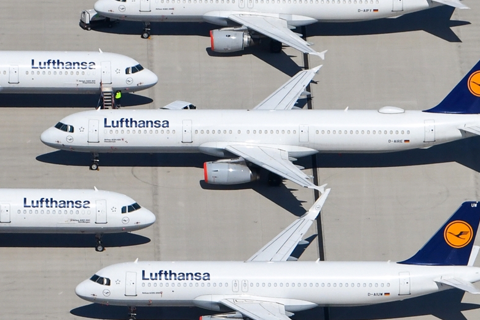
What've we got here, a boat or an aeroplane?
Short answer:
aeroplane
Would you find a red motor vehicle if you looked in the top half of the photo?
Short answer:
No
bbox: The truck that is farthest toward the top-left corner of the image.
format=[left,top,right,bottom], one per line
[80,4,127,29]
